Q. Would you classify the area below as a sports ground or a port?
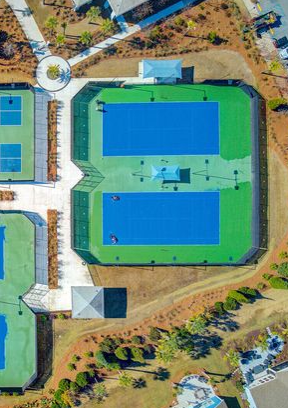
sports ground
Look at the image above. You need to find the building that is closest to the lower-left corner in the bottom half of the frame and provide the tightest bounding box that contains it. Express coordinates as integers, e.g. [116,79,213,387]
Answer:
[68,284,104,319]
